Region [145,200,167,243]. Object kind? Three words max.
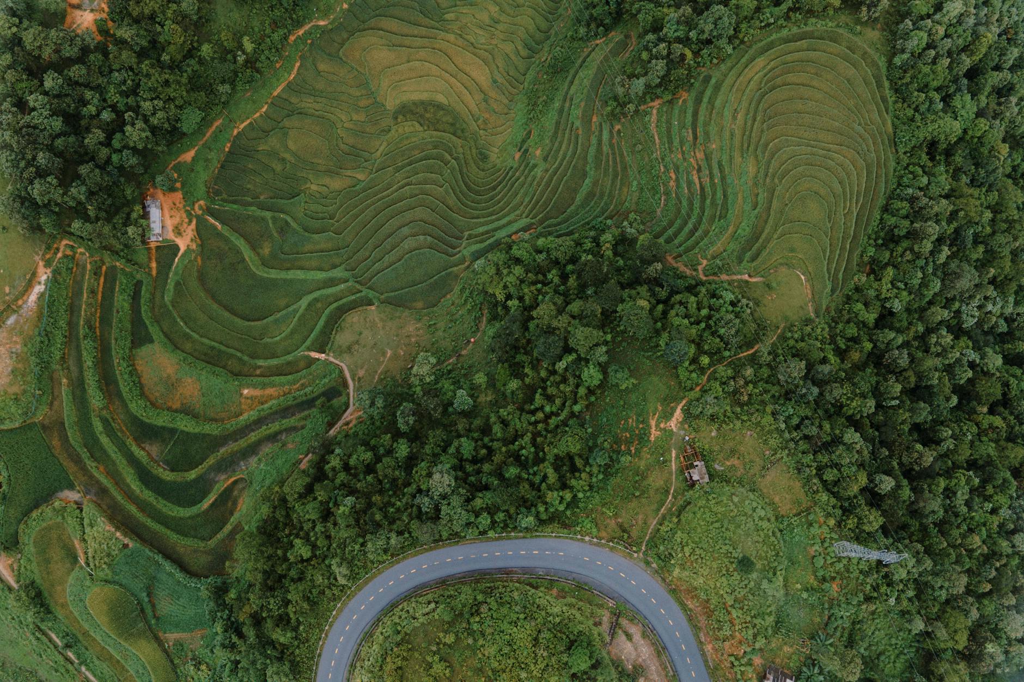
house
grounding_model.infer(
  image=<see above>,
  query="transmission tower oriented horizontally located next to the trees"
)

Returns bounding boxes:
[831,541,906,563]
